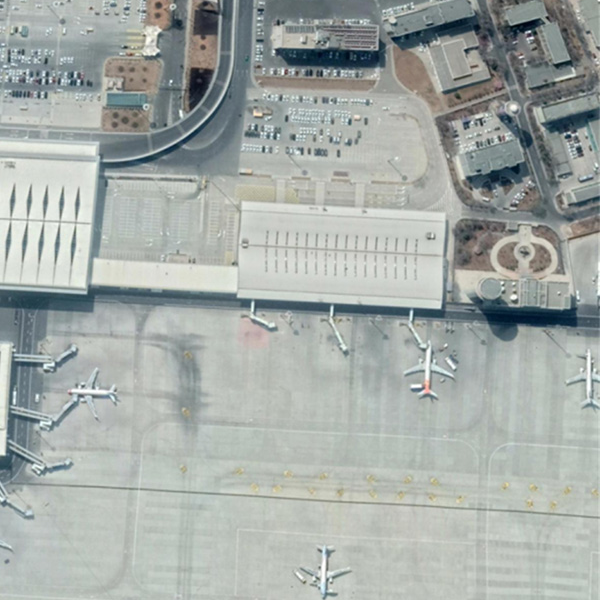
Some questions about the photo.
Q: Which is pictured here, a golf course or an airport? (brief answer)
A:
airport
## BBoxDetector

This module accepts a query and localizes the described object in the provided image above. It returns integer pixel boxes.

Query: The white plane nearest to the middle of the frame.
[404,341,453,398]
